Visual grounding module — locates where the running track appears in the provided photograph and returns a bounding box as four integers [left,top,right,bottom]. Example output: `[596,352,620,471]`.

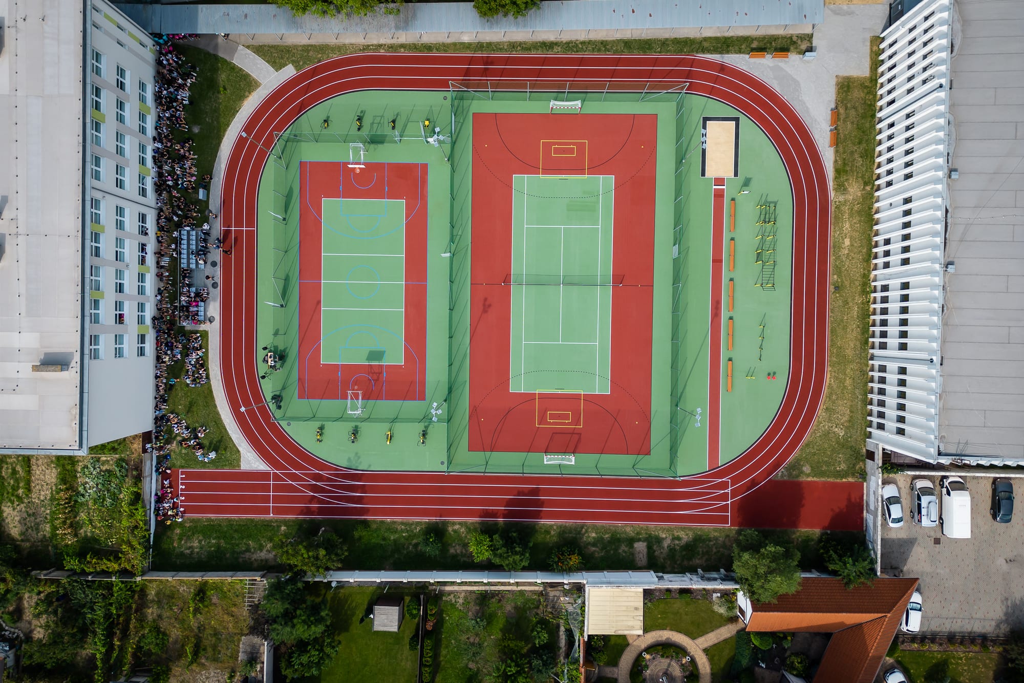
[180,52,832,526]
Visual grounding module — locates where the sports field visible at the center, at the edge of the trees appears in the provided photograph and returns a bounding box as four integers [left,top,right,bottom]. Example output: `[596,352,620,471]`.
[259,92,792,475]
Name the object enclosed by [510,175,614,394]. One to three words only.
tennis court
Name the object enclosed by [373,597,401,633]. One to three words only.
shed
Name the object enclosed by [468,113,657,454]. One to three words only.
sports court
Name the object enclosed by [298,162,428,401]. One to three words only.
basketball court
